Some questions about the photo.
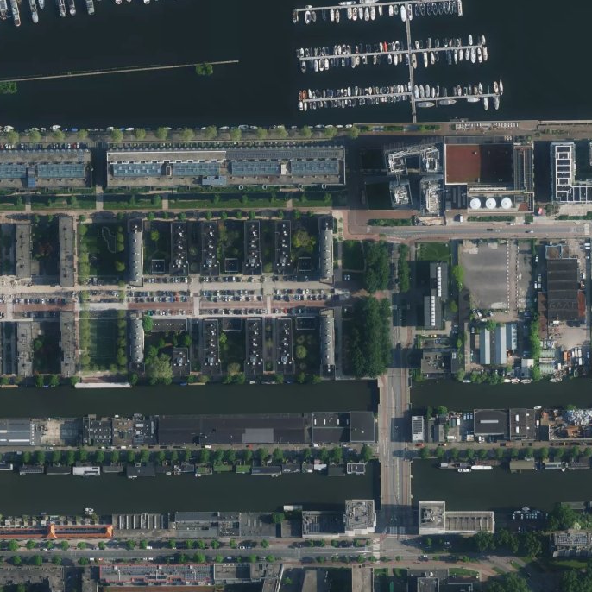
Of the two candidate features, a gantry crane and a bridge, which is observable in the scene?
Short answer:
bridge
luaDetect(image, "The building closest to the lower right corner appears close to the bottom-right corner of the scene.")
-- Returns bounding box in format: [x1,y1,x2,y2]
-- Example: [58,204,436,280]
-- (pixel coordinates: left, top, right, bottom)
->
[553,534,592,556]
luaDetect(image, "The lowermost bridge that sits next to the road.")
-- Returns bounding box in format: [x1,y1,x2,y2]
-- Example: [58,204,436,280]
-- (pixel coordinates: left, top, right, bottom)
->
[376,460,412,508]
